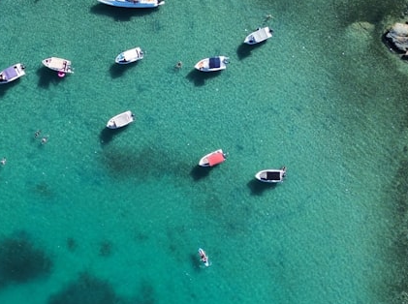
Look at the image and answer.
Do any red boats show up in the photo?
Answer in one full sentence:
Yes, the photo shows a red boat.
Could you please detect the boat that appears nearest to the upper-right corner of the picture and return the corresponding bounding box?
[243,27,274,43]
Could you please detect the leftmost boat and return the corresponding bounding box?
[0,63,28,83]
